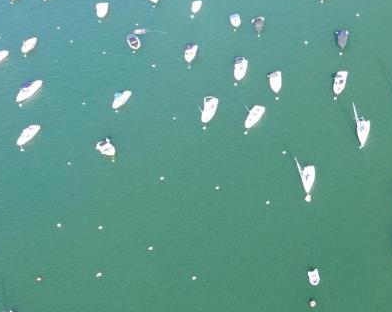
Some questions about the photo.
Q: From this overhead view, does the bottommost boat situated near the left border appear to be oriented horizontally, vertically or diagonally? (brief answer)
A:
diagonally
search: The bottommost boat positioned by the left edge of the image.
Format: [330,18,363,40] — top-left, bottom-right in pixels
[15,124,45,145]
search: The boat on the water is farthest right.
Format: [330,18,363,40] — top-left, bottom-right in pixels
[353,108,370,146]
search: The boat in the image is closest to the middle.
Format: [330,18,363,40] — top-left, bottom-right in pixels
[200,95,221,121]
